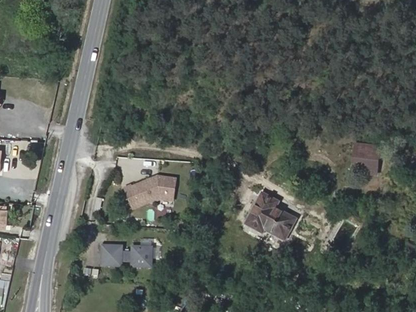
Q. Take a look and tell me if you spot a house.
Yes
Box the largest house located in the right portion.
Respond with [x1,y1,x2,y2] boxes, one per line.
[241,186,302,252]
